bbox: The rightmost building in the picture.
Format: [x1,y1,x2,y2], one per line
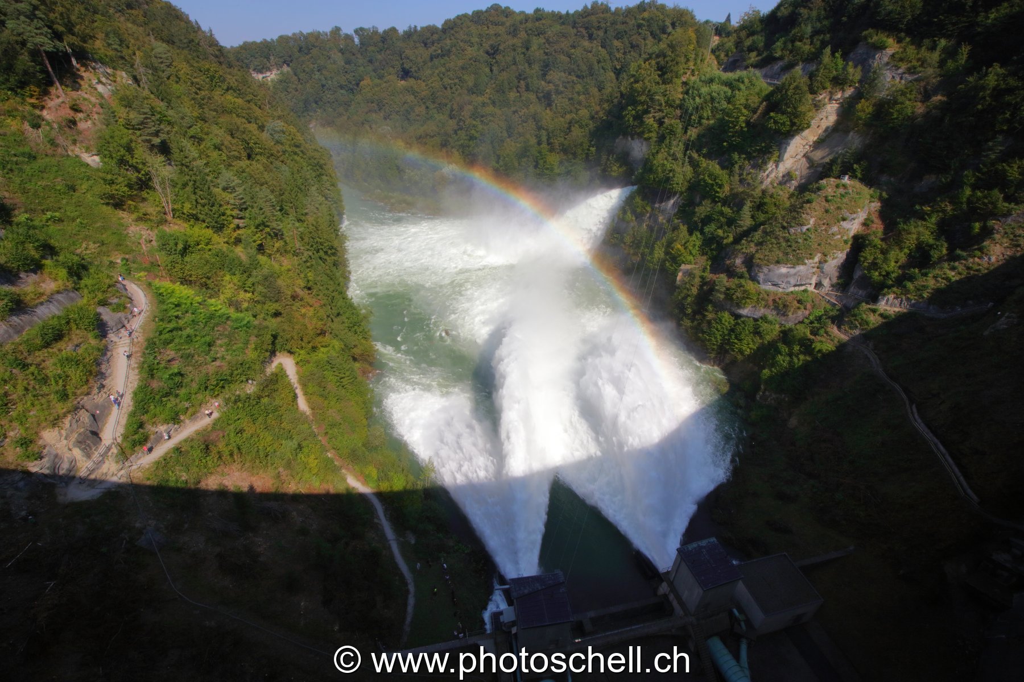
[728,552,824,650]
